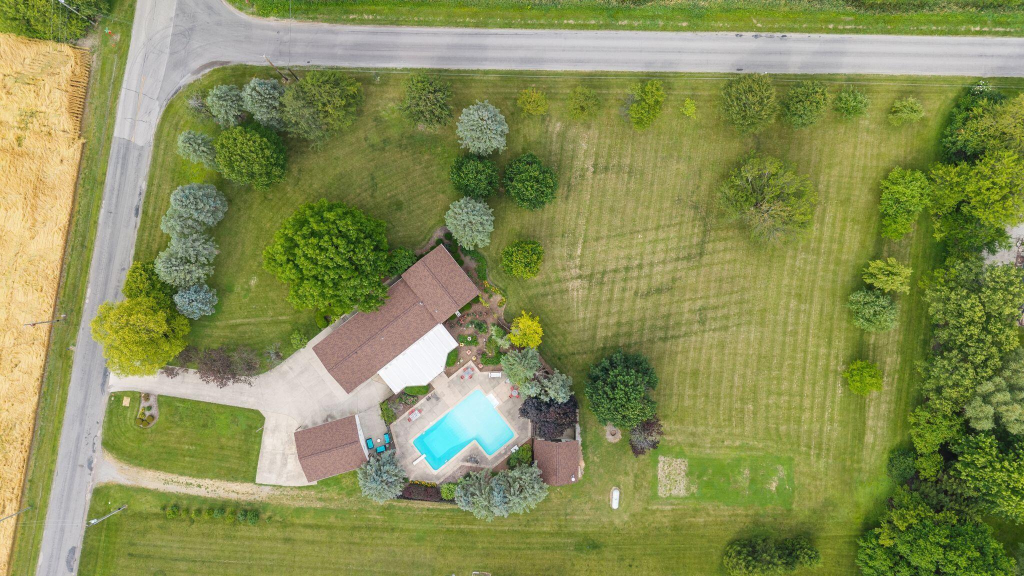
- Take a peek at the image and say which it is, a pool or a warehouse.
pool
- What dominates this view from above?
grass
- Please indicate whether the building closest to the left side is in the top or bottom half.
bottom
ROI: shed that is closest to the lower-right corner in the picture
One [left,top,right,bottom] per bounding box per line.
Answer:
[534,437,581,486]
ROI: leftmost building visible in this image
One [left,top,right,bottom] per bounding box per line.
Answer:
[295,413,371,484]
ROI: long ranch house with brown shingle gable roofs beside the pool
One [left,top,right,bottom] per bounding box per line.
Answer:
[313,244,480,394]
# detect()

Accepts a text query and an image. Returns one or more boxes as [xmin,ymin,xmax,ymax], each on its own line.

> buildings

[534,437,581,486]
[295,413,371,484]
[313,244,480,394]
